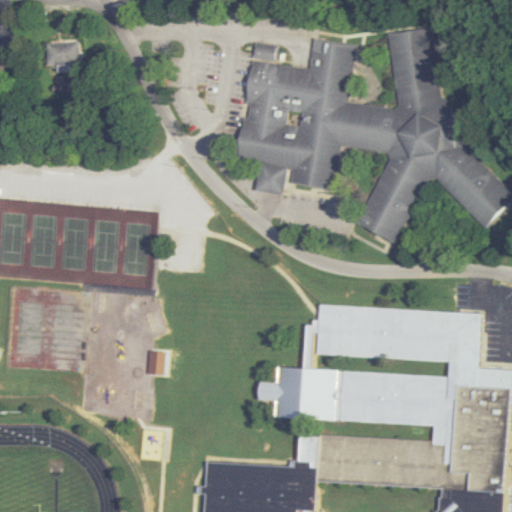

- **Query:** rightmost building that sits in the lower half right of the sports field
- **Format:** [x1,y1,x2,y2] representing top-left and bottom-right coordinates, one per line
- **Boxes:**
[196,304,512,512]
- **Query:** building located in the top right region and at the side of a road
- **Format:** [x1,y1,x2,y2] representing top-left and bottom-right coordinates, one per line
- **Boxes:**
[240,30,510,244]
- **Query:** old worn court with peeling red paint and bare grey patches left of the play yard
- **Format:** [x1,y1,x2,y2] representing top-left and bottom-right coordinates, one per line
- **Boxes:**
[8,287,86,372]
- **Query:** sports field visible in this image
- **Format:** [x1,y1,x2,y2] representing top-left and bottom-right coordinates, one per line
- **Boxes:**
[0,446,100,512]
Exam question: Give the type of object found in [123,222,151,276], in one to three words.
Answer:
tennis court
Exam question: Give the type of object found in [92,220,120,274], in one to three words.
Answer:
tennis court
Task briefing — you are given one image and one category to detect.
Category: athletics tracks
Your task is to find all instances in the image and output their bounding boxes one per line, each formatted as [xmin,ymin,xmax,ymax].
[0,425,121,512]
